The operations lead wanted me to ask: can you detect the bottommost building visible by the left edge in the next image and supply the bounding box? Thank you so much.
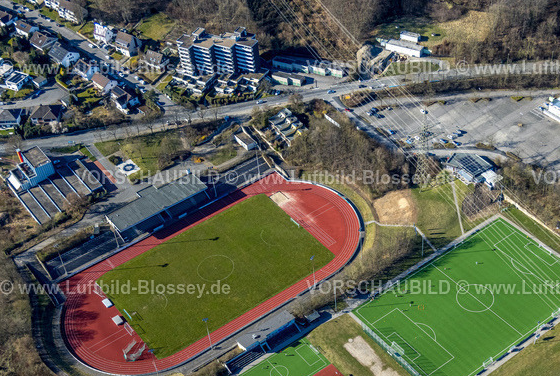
[0,142,104,228]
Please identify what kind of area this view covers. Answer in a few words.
sports ground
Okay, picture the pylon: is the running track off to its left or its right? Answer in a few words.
to its left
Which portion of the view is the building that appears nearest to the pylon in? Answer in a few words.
right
